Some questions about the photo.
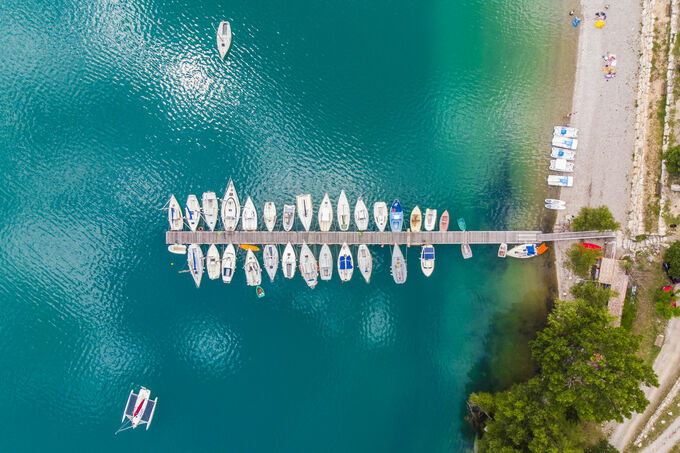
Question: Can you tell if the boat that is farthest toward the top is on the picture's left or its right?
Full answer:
The boat that is farthest toward the top is on the left side of the image.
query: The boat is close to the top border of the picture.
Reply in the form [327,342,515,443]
[212,18,232,60]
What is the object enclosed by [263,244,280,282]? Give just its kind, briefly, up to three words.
boat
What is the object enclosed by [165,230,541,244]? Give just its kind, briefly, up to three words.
pier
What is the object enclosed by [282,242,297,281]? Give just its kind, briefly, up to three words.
boat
